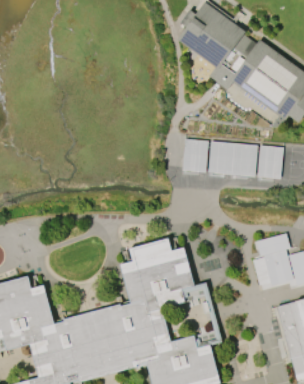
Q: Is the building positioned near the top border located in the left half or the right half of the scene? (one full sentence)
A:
The building positioned near the top border is on the right side of the image.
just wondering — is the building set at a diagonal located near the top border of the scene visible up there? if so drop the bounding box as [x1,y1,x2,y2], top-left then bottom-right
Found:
[182,0,304,124]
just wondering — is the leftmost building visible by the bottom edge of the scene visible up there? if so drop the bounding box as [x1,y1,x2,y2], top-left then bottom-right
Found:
[0,238,221,384]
